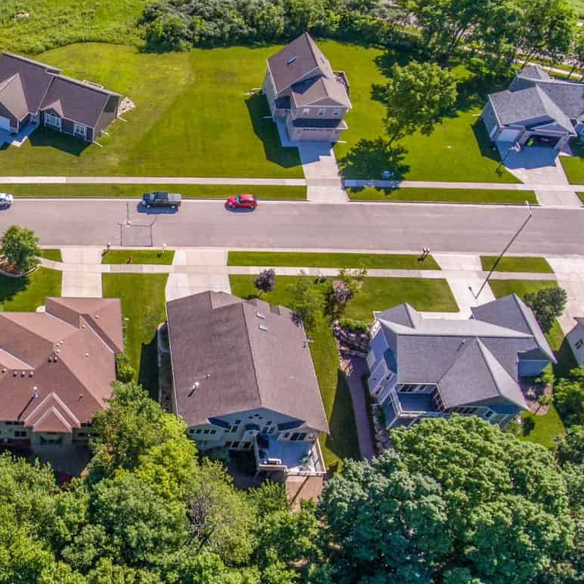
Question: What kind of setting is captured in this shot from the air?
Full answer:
This image shows a residential area.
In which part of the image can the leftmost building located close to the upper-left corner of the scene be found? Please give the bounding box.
[0,49,125,148]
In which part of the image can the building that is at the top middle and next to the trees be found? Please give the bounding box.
[250,32,353,141]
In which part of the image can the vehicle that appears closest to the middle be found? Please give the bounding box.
[227,195,258,210]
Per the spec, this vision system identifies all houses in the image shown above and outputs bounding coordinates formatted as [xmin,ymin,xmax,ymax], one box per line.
[565,317,584,362]
[0,49,125,148]
[482,64,584,150]
[165,290,330,490]
[0,296,123,453]
[373,292,557,432]
[250,32,353,141]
